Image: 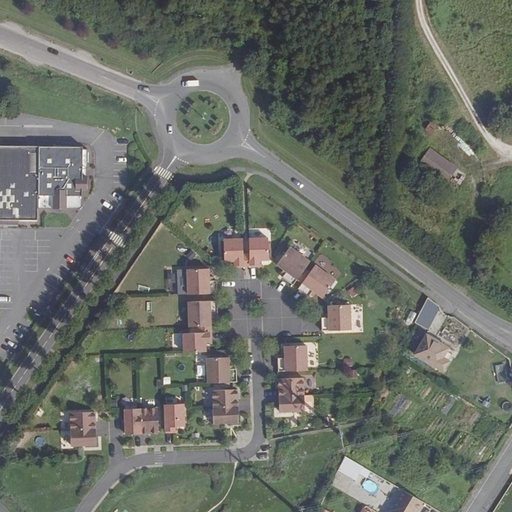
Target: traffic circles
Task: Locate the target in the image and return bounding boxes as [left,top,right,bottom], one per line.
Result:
[138,66,258,173]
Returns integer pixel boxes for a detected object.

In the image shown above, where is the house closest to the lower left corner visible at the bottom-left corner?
[60,412,102,450]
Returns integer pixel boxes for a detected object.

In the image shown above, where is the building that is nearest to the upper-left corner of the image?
[0,146,88,225]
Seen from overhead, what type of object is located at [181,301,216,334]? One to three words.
house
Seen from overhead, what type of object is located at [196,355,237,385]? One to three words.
house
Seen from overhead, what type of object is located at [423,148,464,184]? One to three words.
barn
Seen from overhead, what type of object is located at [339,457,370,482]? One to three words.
building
